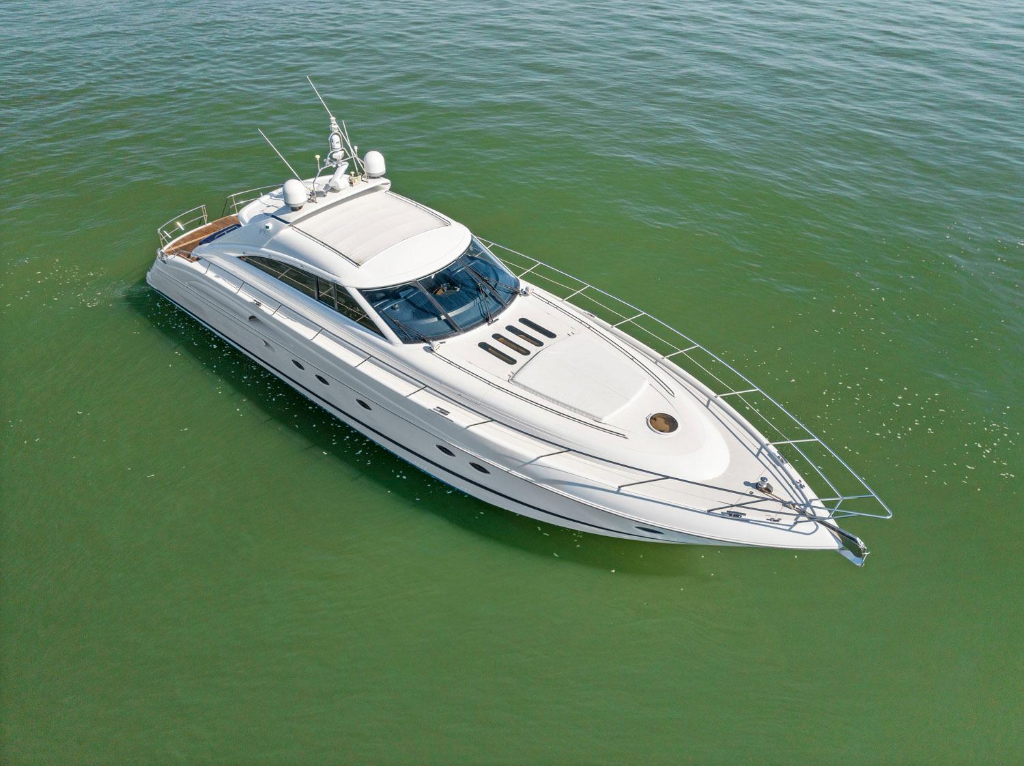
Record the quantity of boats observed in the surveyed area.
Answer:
one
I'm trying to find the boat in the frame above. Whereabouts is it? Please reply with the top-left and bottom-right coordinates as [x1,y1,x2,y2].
[147,71,893,564]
